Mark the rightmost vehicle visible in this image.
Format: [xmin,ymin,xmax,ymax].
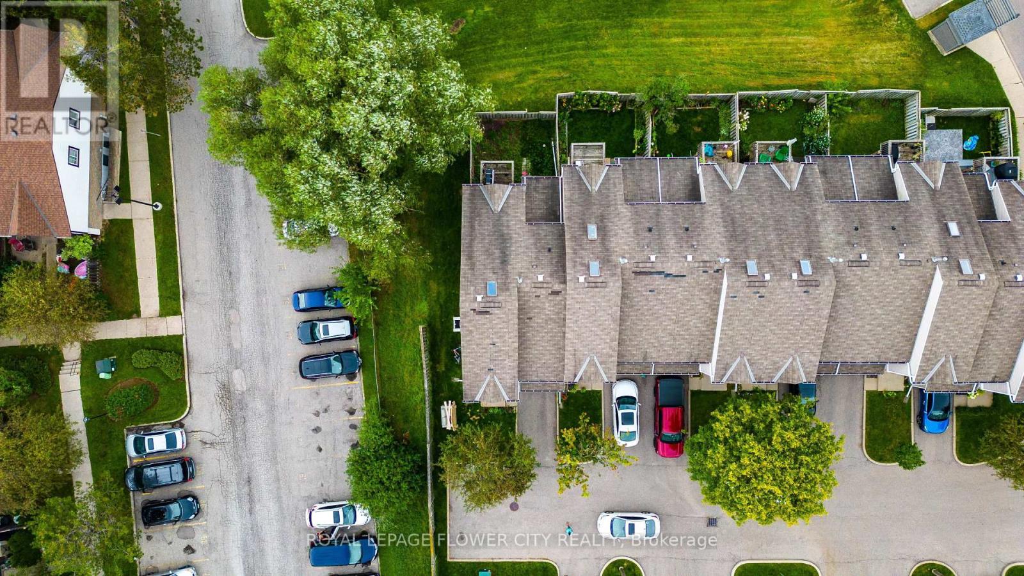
[917,387,954,432]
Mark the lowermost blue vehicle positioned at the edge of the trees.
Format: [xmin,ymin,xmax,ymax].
[308,531,380,567]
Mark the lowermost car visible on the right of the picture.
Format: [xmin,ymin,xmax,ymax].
[597,509,660,541]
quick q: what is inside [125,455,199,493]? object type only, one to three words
car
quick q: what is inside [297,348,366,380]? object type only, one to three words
car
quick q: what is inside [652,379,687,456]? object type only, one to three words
truck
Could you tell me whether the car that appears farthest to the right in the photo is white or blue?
blue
